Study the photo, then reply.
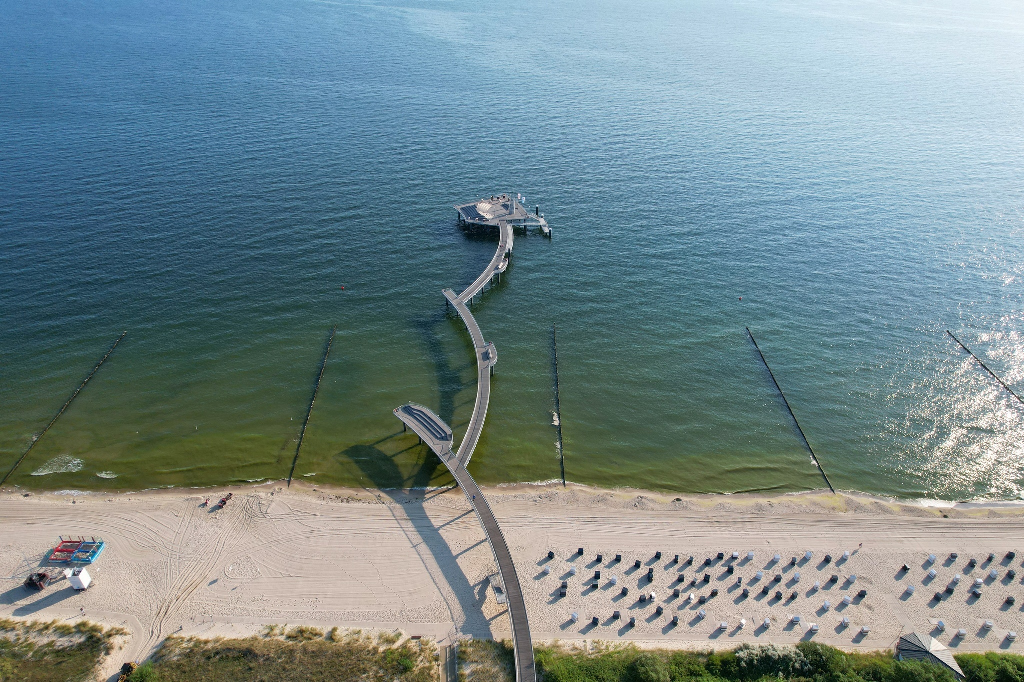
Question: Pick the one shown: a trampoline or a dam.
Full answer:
Visible in the photo is a trampoline.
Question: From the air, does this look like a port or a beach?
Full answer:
The picture captures a beach.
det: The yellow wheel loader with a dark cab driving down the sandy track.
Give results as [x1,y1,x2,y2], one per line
[113,656,141,682]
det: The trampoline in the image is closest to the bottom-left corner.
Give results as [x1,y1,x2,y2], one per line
[0,546,57,591]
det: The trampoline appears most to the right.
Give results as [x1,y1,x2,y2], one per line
[45,535,104,563]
